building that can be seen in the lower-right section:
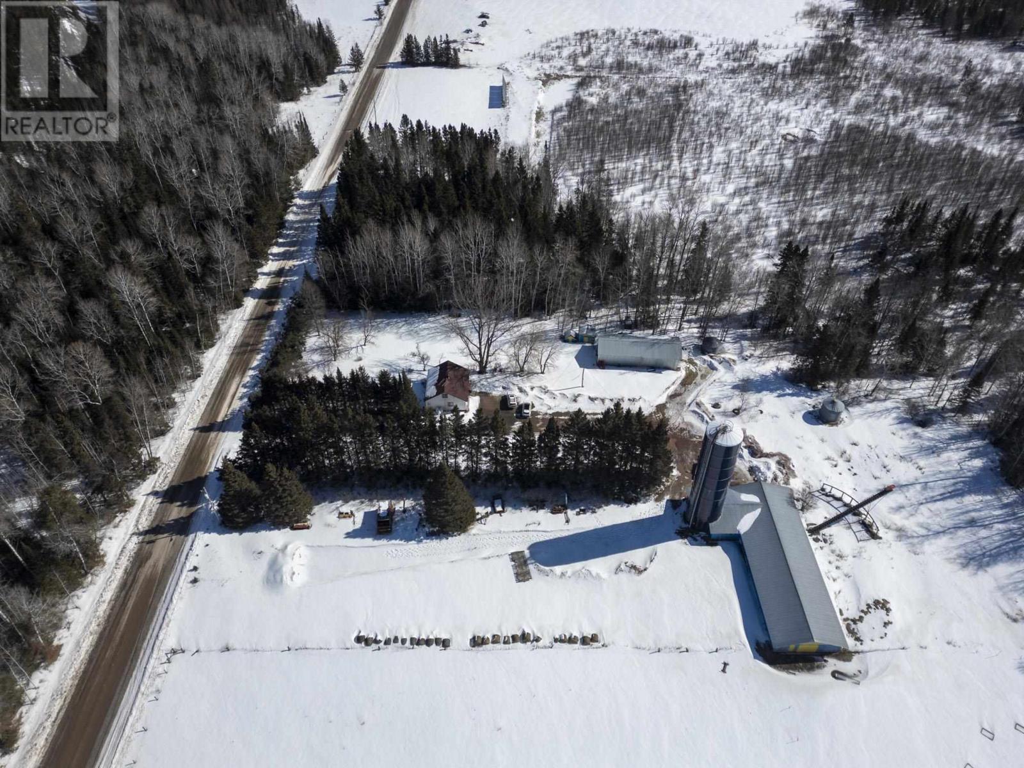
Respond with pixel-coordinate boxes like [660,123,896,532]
[710,482,852,662]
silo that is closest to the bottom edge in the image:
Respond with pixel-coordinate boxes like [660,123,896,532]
[682,421,737,537]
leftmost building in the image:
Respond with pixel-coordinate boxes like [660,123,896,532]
[424,358,470,412]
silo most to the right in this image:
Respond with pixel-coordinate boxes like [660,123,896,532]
[820,399,848,424]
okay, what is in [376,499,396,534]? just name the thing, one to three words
work vehicle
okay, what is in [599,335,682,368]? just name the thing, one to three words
shed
